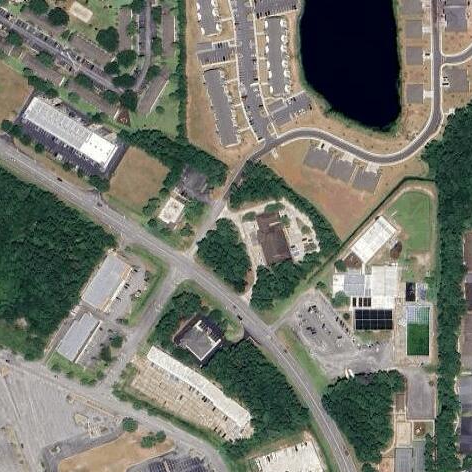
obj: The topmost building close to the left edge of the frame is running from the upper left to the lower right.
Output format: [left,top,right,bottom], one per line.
[21,9,65,37]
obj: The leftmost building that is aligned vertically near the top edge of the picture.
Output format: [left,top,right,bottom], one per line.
[117,8,132,50]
